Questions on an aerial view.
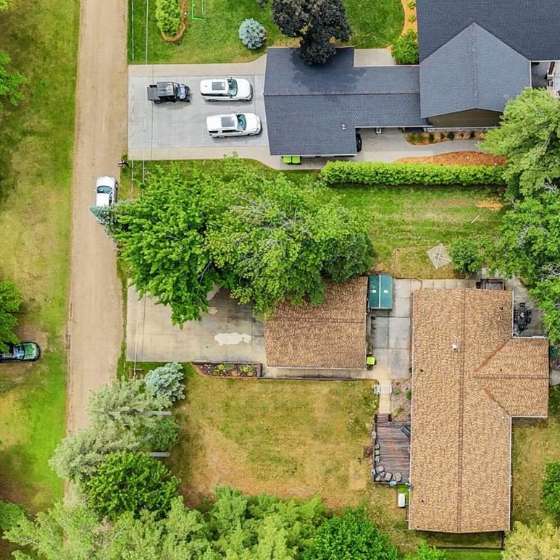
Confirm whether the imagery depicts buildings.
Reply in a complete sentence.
Yes, there's a building down there.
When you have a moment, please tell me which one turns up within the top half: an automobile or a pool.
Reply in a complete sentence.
The feature located within the top half is an automobile.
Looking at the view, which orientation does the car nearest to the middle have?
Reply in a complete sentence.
In this picture, the car nearest to the middle is oriented from left to right.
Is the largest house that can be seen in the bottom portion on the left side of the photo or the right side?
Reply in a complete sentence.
The largest house that can be seen in the bottom portion appears in the right half of the scene.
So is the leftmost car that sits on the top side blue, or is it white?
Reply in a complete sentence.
From above, the leftmost car that sits on the top side appears white.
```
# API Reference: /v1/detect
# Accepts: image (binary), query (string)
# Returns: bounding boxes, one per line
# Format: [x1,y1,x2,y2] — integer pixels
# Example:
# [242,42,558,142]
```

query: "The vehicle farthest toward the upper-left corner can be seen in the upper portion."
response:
[145,81,188,102]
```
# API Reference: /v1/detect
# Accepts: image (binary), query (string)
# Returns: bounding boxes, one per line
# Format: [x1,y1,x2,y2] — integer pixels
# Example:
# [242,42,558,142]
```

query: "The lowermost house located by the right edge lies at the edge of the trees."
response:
[406,286,550,535]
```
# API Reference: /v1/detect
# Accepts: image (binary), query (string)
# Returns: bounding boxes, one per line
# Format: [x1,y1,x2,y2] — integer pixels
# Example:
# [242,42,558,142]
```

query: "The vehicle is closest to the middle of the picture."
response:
[207,111,260,136]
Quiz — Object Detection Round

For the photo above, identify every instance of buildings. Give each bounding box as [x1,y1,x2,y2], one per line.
[369,274,394,309]
[406,286,550,535]
[260,278,368,370]
[264,0,560,158]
